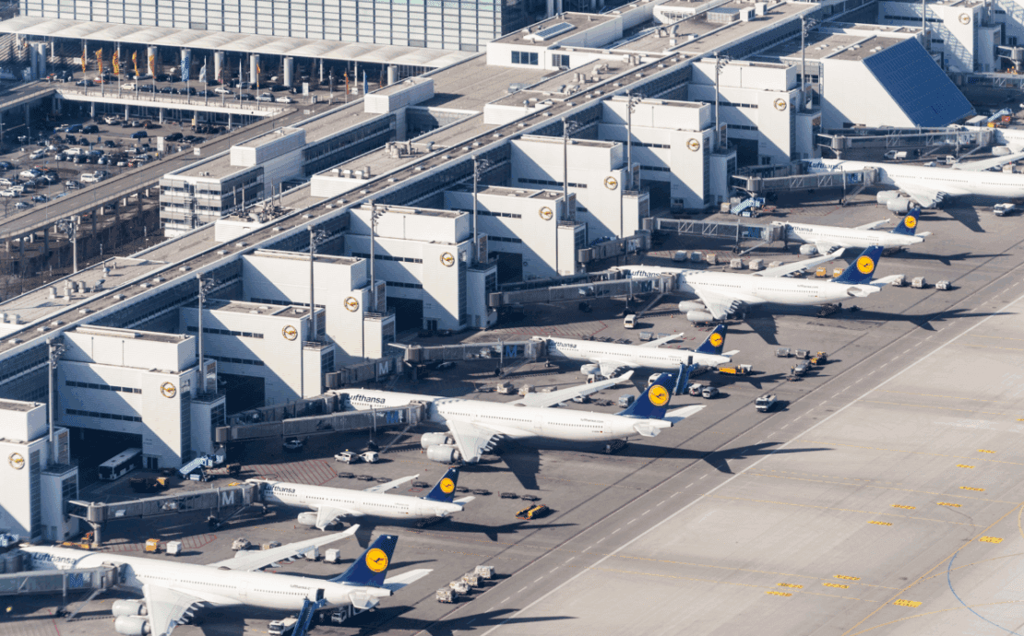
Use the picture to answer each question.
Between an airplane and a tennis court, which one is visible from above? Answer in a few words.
airplane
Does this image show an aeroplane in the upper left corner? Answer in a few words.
No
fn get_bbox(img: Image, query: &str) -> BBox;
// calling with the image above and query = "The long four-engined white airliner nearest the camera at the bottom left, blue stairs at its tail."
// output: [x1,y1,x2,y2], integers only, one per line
[11,519,417,636]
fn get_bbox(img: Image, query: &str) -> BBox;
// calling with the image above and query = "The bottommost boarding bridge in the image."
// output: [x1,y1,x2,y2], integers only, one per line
[0,561,131,617]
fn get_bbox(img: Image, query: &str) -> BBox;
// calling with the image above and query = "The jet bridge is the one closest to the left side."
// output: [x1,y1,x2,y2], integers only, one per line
[0,546,28,573]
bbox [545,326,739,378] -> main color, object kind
white airplane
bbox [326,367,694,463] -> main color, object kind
white airplane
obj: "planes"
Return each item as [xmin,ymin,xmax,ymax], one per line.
[614,245,898,323]
[326,367,694,463]
[766,209,944,258]
[11,519,417,636]
[545,326,739,378]
[790,152,1024,214]
[259,471,475,533]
